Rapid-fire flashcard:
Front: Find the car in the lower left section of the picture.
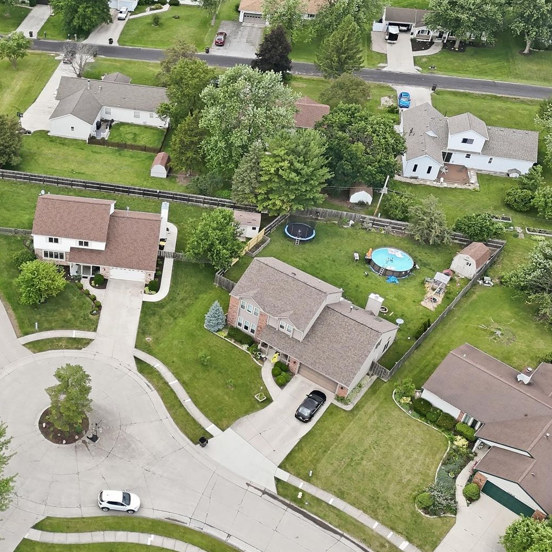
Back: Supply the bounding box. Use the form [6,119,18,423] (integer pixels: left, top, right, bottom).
[97,490,140,513]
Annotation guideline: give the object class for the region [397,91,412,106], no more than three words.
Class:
car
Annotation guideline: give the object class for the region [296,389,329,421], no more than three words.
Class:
car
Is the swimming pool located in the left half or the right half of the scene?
right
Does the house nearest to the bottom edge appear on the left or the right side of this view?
right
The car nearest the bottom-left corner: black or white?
white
